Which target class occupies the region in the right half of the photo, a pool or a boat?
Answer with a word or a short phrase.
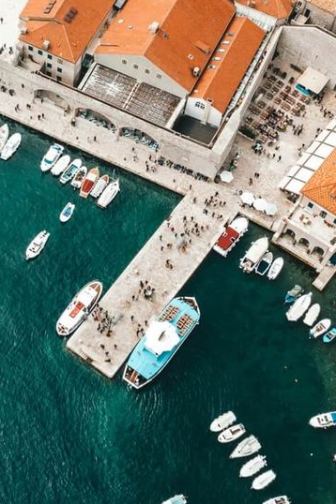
boat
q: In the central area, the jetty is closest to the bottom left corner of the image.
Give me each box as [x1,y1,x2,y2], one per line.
[65,195,238,380]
